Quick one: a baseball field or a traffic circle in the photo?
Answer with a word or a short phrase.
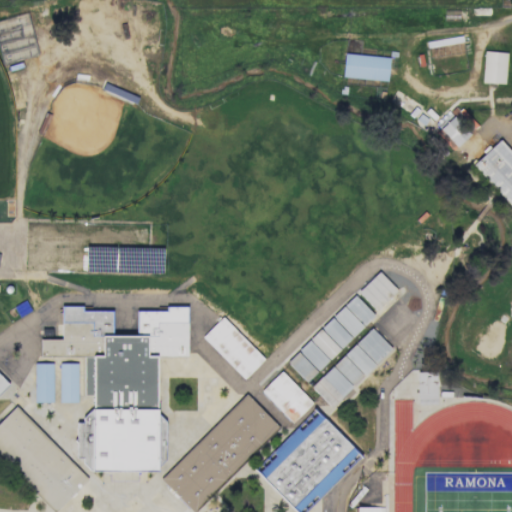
baseball field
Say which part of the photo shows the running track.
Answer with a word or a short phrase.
bottom right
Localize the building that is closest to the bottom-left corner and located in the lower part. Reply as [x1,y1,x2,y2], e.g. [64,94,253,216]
[0,405,90,512]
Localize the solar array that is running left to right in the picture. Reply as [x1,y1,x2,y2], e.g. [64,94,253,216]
[88,248,165,273]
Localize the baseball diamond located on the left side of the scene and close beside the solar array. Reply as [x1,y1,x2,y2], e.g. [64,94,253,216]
[24,81,194,218]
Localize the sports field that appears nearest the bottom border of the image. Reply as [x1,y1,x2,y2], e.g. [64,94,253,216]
[414,467,512,512]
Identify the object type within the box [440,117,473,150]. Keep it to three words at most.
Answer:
house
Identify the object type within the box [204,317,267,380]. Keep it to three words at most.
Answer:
building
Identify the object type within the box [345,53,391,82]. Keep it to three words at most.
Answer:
barn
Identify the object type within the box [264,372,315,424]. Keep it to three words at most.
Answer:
building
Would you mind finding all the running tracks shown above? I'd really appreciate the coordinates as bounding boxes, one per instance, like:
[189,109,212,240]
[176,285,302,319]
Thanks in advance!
[396,400,512,512]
